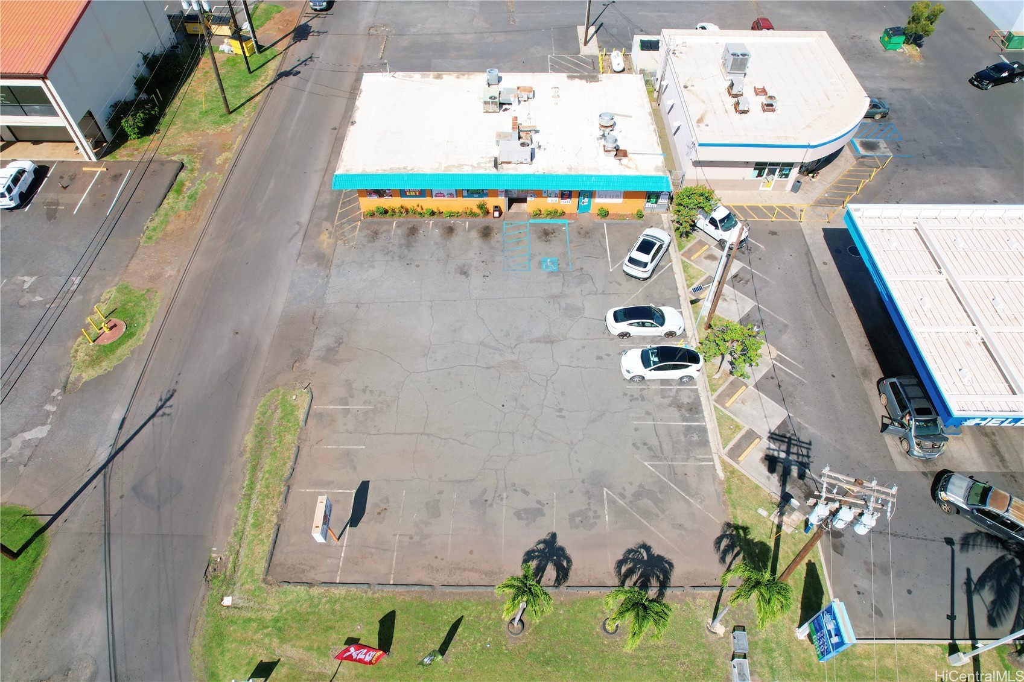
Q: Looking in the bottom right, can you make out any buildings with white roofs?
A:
No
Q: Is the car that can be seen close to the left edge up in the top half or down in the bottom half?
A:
top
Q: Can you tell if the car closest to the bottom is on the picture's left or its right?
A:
right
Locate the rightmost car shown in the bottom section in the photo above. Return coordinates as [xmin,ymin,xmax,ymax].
[930,473,1024,555]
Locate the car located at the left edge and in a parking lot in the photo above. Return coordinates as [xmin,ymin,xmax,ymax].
[0,161,37,207]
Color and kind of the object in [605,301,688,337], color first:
white car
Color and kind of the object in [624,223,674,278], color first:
white car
